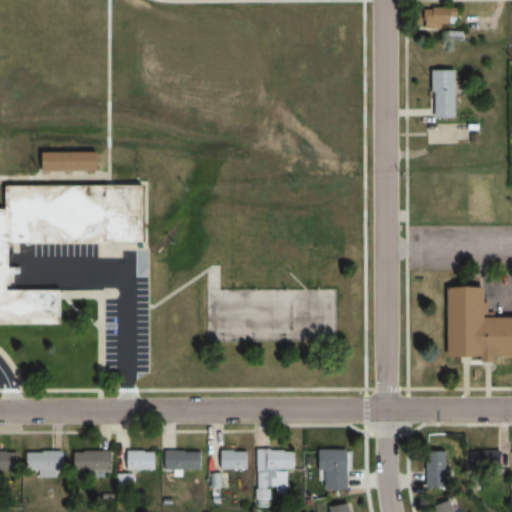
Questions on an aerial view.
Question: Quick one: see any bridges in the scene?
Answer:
No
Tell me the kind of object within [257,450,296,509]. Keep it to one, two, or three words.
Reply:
house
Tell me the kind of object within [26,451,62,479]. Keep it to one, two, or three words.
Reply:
house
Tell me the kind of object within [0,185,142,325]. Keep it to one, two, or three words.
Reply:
building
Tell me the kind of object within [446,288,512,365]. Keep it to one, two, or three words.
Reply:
building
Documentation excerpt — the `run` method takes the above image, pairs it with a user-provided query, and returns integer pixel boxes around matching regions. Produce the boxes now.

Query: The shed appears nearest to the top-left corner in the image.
[42,151,97,172]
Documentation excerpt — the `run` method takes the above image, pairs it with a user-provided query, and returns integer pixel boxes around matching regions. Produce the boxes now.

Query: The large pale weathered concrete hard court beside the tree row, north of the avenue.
[207,288,336,341]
